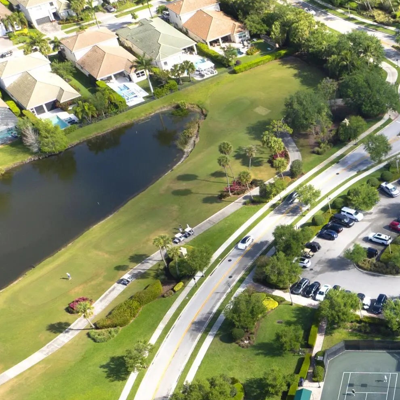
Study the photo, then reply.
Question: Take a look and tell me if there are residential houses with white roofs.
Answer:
Yes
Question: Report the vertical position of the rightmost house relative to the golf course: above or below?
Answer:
above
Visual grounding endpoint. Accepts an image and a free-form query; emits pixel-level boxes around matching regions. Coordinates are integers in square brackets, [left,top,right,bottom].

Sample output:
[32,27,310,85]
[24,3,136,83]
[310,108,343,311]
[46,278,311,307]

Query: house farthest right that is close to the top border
[164,0,249,49]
